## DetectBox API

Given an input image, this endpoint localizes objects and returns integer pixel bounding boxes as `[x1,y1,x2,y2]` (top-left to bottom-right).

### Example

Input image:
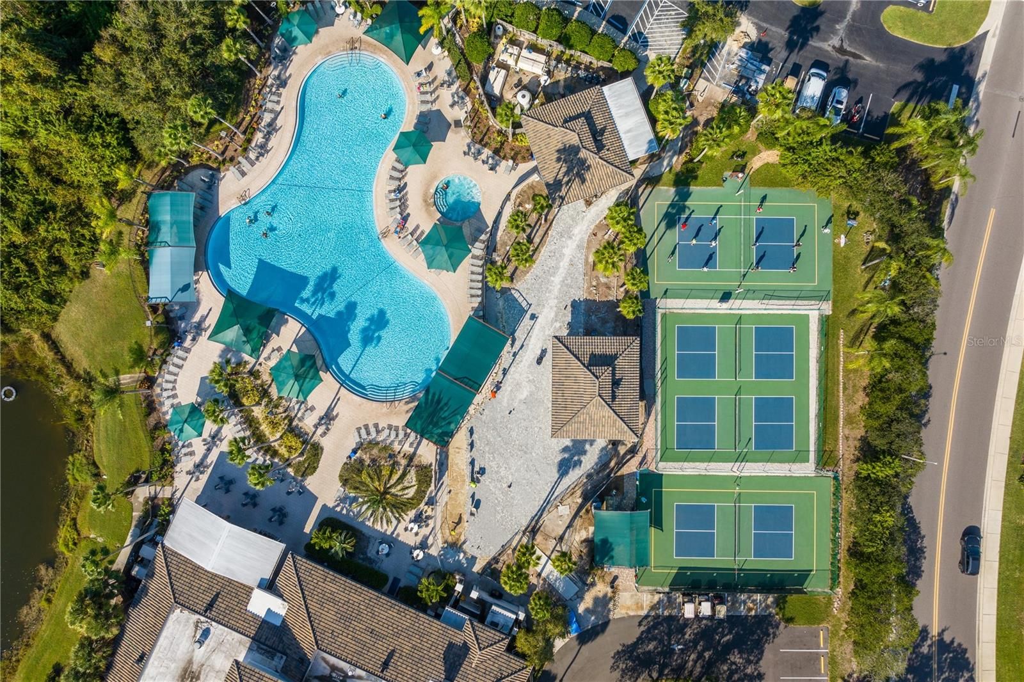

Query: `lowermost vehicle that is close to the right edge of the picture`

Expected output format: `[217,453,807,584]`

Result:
[957,529,983,572]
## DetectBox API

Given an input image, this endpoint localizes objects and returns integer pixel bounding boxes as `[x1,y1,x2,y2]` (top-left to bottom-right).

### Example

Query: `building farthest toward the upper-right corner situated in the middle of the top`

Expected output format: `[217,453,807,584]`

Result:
[520,76,659,210]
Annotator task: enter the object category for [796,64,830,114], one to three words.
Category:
van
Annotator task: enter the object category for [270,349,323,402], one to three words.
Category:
umbrella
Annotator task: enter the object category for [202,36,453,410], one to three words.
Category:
swimming pool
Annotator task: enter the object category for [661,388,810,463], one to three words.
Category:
sports court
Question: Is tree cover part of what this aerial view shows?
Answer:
Yes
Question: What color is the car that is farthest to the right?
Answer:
black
